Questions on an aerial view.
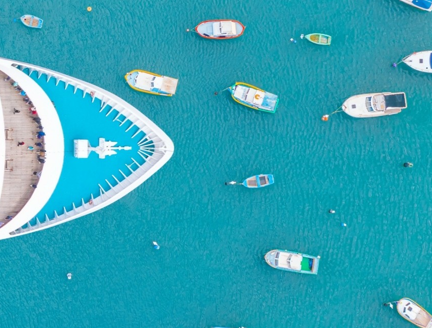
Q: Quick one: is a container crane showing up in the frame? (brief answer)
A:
No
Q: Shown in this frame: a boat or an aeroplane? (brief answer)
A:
boat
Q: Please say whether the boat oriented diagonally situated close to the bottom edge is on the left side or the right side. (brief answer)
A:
right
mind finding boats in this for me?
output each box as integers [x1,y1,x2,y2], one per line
[306,33,332,45]
[233,173,275,188]
[124,70,179,99]
[224,81,280,114]
[190,16,248,40]
[264,250,322,275]
[391,299,432,328]
[395,0,432,14]
[328,89,408,119]
[16,14,44,28]
[396,51,432,73]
